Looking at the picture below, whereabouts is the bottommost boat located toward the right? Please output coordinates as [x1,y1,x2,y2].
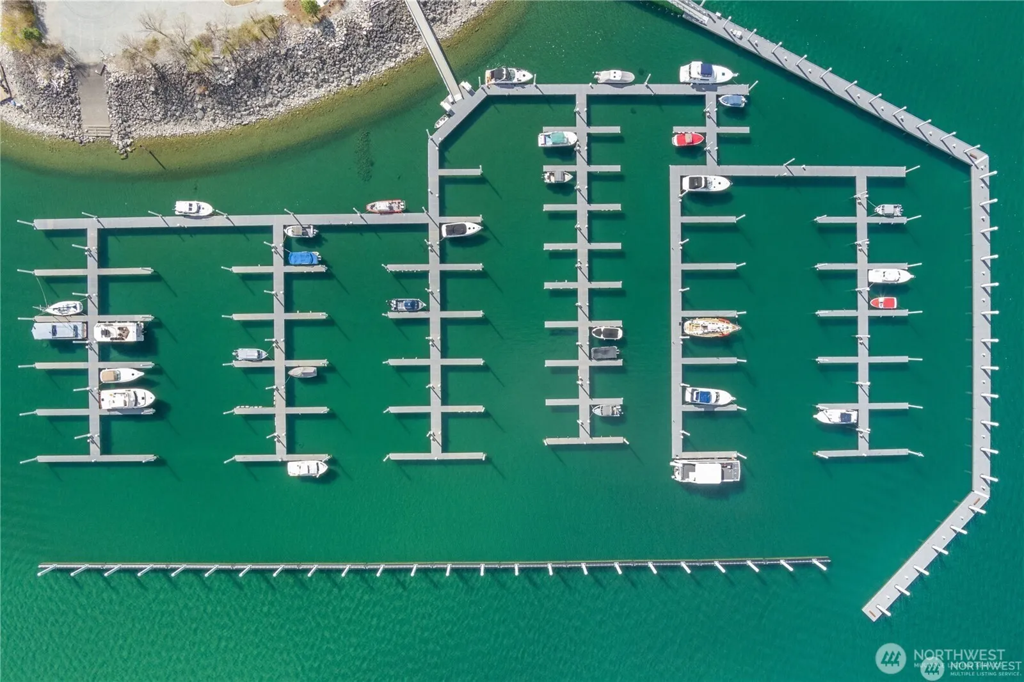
[671,459,740,483]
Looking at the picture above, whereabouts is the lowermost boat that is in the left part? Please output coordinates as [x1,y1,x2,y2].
[288,461,329,478]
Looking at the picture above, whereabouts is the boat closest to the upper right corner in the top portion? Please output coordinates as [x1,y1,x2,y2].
[868,200,906,216]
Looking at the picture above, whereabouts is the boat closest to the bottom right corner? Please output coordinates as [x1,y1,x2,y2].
[813,409,858,427]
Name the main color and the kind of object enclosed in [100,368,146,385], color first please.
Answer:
white boat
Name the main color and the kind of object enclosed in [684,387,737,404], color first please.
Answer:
white boat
